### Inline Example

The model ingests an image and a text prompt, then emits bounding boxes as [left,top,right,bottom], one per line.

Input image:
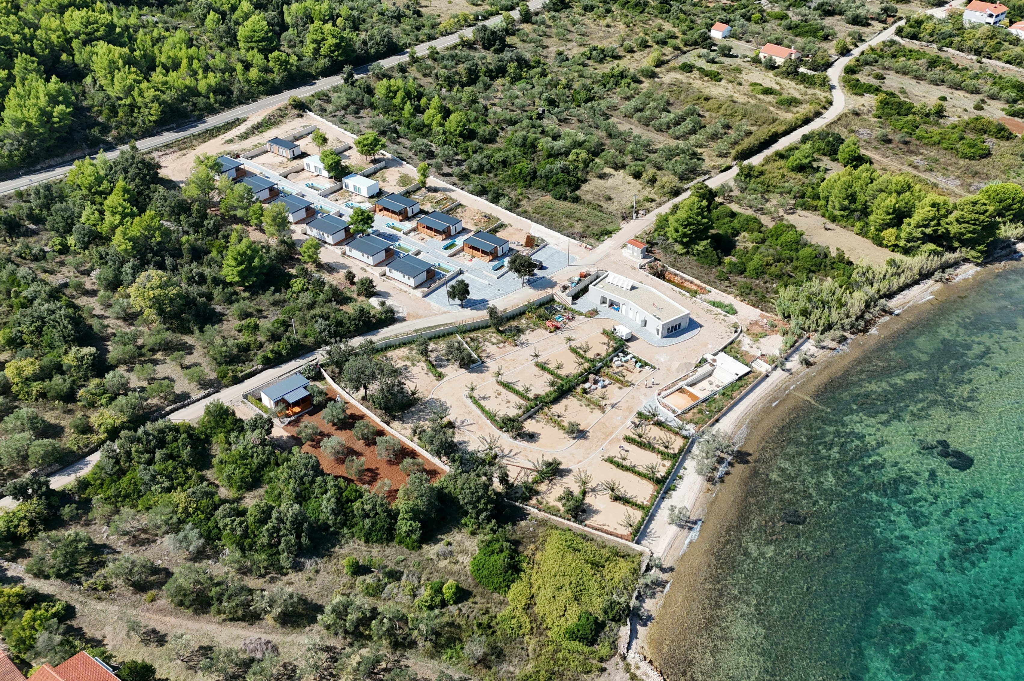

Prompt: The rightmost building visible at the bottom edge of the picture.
[59,649,128,681]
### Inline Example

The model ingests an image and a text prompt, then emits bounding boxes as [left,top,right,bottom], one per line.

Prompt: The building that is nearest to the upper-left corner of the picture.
[209,156,245,181]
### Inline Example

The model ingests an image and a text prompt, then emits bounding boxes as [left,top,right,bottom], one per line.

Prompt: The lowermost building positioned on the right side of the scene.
[589,271,690,339]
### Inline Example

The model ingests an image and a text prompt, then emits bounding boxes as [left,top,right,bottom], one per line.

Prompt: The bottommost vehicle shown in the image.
[609,319,633,339]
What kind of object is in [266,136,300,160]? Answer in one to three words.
building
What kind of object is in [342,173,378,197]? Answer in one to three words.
building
